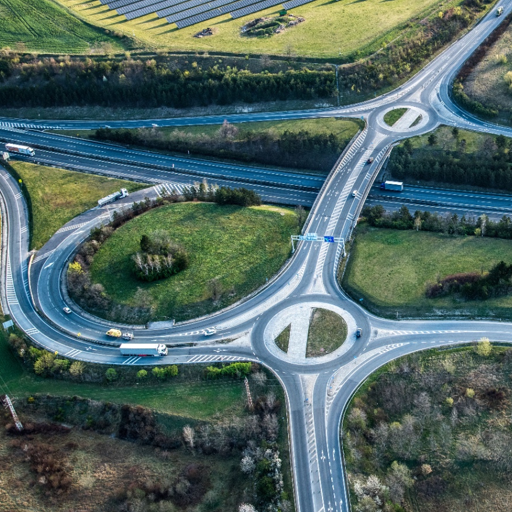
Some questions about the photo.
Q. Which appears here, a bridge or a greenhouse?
bridge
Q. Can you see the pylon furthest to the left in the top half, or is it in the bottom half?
bottom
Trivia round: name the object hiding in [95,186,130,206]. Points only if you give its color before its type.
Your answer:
white vehicle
